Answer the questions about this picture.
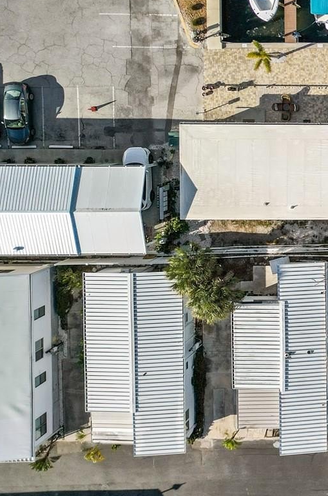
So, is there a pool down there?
No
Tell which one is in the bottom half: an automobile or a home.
home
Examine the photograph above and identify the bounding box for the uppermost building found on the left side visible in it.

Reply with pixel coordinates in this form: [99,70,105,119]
[0,164,166,257]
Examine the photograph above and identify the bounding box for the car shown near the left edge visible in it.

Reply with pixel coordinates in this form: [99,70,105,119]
[1,82,36,143]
